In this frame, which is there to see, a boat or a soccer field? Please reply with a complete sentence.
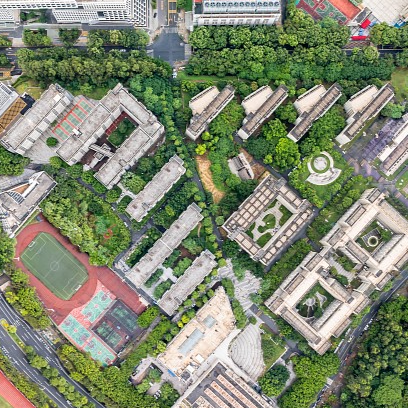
Of the two, only a soccer field appears.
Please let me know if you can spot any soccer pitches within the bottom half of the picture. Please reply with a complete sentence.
Yes, there is a soccer pitch within the bottom half of the picture.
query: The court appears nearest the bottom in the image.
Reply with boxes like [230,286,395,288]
[83,336,116,367]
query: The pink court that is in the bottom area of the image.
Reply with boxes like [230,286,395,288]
[62,288,118,367]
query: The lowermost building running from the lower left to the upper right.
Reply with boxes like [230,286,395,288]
[134,286,235,388]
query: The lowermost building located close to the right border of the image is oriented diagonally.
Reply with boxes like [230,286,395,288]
[262,185,408,355]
